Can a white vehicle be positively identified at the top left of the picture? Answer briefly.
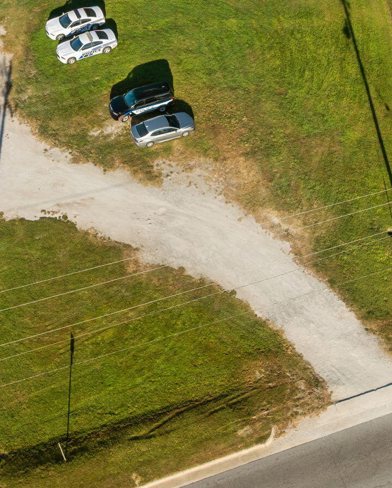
Yes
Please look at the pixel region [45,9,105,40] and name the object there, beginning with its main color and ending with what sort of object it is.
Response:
white car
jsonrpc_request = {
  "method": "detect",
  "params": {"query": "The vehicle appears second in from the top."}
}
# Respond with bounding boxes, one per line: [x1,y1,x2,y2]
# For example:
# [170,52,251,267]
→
[56,30,117,64]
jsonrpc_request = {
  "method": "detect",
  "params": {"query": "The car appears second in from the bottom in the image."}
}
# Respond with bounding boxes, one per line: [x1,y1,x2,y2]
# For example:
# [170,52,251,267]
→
[108,82,173,122]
